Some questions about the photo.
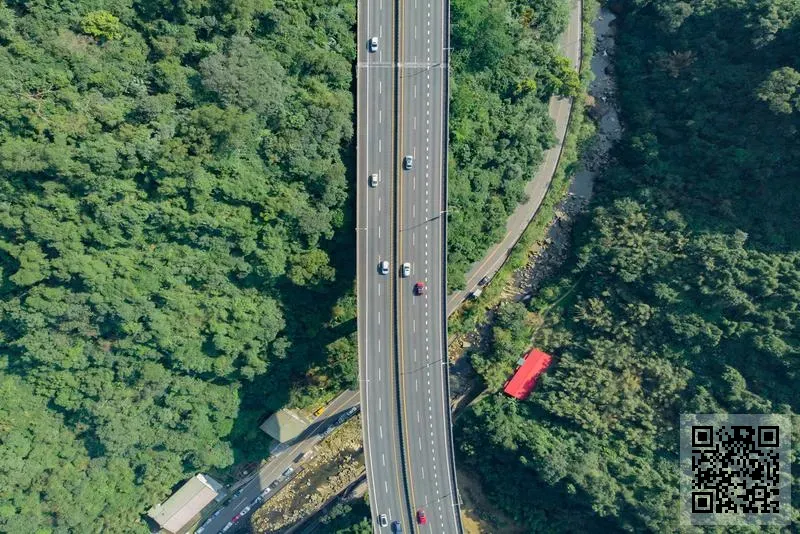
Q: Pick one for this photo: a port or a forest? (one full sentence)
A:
This image shows a forest.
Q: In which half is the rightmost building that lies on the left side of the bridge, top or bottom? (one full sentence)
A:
The rightmost building that lies on the left side of the bridge is in the bottom half of the image.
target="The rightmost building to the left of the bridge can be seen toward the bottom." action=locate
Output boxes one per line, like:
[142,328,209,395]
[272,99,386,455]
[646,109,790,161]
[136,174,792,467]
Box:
[260,408,309,442]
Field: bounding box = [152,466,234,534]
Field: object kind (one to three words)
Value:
building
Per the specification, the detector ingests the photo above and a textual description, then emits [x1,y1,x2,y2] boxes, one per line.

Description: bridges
[357,0,463,534]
